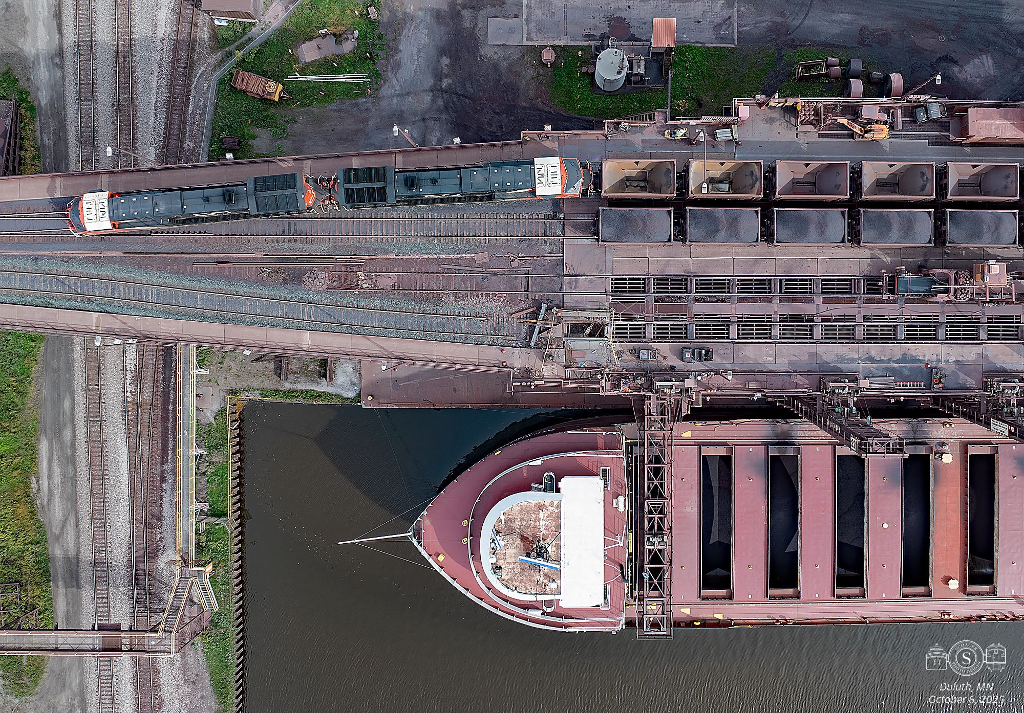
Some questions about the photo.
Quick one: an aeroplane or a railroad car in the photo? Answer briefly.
railroad car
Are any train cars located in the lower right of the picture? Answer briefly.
No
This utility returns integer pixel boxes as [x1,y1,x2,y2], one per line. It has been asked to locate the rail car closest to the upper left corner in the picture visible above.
[60,172,338,241]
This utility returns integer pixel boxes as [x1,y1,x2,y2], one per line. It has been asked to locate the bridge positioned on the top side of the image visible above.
[0,134,562,385]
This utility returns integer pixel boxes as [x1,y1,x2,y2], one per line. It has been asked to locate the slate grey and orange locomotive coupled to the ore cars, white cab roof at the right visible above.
[328,158,600,216]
